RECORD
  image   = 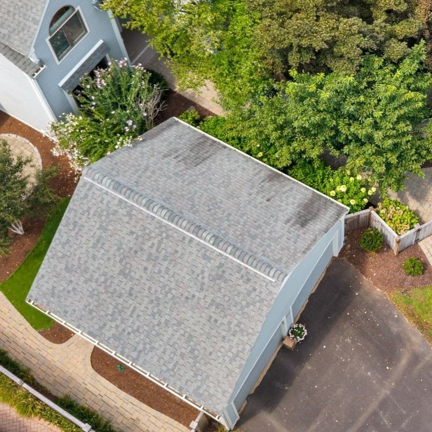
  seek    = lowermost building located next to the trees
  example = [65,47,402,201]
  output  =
[24,114,352,431]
